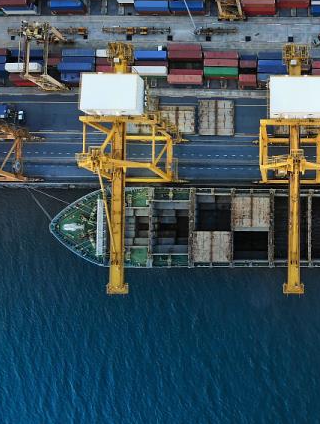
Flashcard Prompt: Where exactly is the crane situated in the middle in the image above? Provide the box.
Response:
[80,40,190,299]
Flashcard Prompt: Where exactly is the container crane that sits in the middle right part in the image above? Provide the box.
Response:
[248,40,320,299]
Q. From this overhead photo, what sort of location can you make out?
port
